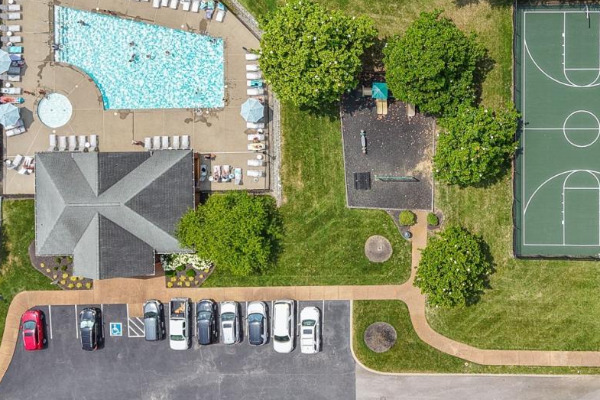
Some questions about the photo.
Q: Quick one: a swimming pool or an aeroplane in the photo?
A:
swimming pool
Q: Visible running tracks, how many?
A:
zero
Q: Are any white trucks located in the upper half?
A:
No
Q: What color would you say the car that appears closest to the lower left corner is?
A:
red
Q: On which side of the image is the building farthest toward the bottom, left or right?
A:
left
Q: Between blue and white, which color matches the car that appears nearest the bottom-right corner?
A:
white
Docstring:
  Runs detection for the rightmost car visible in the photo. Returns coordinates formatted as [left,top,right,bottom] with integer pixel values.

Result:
[300,305,322,355]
